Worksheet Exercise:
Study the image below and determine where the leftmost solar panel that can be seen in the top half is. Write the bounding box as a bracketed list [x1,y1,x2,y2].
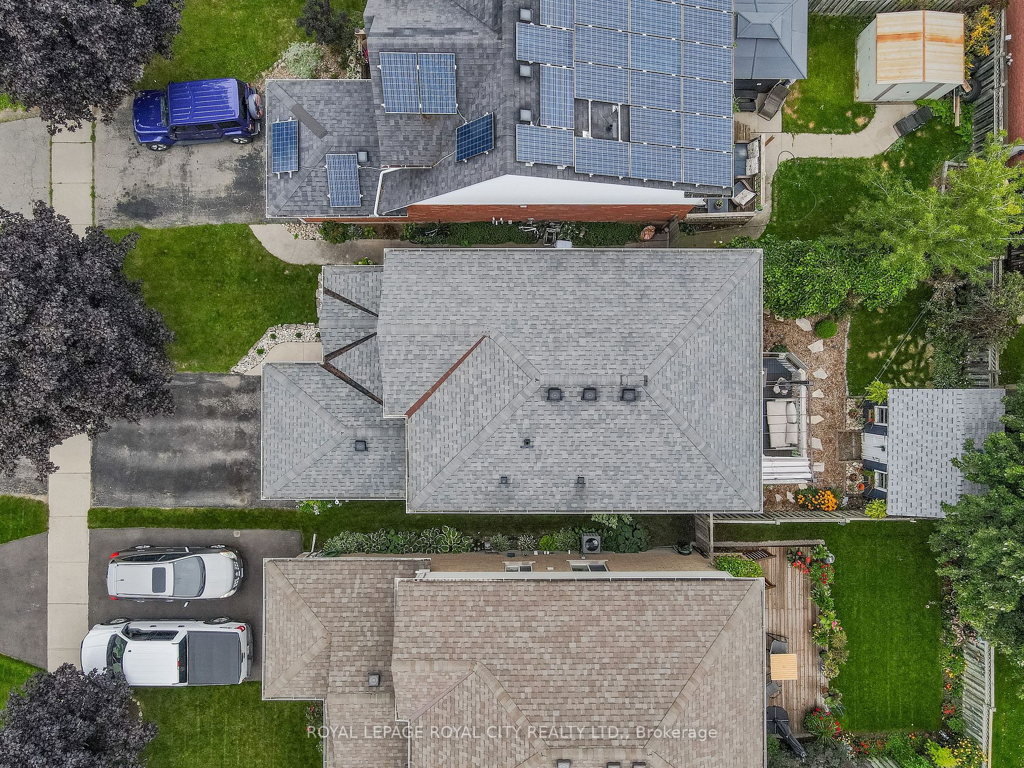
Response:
[270,119,296,172]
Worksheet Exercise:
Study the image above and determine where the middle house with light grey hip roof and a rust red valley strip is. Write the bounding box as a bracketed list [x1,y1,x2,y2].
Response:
[261,248,764,514]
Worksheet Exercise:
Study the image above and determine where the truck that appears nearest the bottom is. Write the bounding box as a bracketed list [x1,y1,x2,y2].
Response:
[81,614,254,692]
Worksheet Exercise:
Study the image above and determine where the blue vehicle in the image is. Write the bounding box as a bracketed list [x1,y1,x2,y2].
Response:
[130,78,260,151]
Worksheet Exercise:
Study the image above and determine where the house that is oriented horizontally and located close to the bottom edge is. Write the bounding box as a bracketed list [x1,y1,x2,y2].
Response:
[262,553,765,768]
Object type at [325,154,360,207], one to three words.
solar panel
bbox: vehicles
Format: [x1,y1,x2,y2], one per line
[103,543,245,609]
[81,614,254,692]
[130,78,260,151]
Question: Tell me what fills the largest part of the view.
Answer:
buildings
